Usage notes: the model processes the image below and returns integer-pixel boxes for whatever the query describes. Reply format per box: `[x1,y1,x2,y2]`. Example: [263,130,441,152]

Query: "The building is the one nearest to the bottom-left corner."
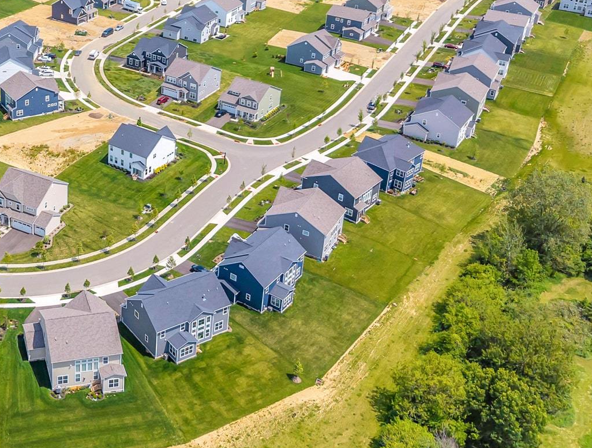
[24,291,127,395]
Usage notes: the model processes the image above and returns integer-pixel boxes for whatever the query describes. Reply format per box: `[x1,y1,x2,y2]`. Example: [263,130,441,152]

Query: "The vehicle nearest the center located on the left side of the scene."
[189,258,211,273]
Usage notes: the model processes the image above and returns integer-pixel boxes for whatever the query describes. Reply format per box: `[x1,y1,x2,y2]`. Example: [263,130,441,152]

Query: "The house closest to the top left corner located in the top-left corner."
[0,21,40,57]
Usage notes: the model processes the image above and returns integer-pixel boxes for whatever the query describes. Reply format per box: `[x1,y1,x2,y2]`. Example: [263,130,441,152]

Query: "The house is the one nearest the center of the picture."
[262,189,346,260]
